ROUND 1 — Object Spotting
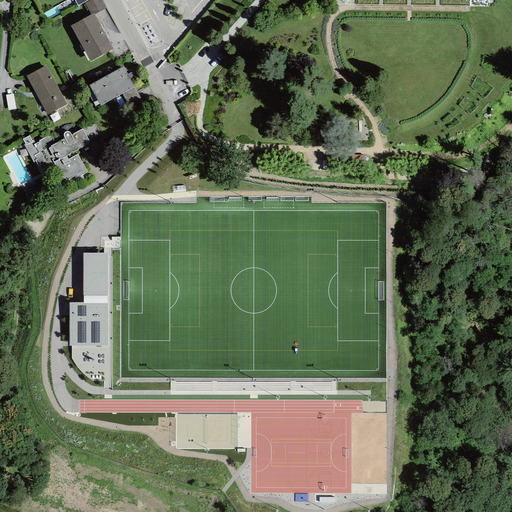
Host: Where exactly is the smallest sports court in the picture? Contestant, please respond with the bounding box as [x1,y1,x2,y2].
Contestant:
[176,412,238,448]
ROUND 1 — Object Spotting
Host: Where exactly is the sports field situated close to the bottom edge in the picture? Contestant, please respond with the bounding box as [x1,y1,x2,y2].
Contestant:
[352,412,386,493]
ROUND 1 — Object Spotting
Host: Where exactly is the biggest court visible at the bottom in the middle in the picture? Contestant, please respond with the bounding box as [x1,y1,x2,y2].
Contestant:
[252,412,352,493]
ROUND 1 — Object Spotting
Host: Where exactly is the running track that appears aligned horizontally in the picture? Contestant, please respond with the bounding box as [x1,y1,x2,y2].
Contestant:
[80,400,363,412]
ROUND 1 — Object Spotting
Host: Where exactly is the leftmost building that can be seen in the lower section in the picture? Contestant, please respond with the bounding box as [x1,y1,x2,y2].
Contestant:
[70,253,109,384]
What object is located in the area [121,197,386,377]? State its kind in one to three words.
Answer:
soccer field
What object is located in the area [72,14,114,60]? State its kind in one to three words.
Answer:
house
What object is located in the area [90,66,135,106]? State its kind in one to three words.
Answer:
house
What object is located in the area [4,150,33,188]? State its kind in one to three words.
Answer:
swimming pool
